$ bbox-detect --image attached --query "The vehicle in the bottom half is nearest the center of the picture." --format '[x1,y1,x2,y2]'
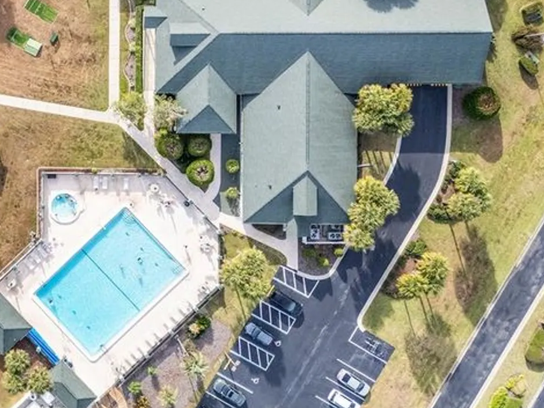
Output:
[262,287,306,320]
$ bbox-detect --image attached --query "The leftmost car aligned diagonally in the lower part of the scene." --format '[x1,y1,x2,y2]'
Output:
[210,377,249,408]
